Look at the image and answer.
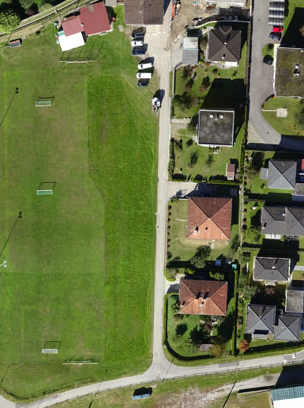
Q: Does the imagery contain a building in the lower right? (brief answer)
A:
Yes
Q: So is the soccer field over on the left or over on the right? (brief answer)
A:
left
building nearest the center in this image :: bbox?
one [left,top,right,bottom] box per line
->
[188,197,232,241]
